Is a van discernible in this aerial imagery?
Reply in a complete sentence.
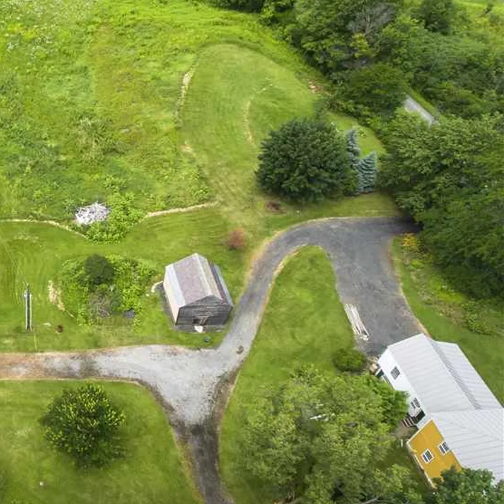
No, the frame has no van in it.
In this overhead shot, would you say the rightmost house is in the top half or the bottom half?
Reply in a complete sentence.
The rightmost house is in the bottom half of the image.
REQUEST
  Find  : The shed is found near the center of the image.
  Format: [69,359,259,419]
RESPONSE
[163,253,236,333]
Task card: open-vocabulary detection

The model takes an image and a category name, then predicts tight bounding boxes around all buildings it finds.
[376,331,504,499]
[163,253,236,333]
